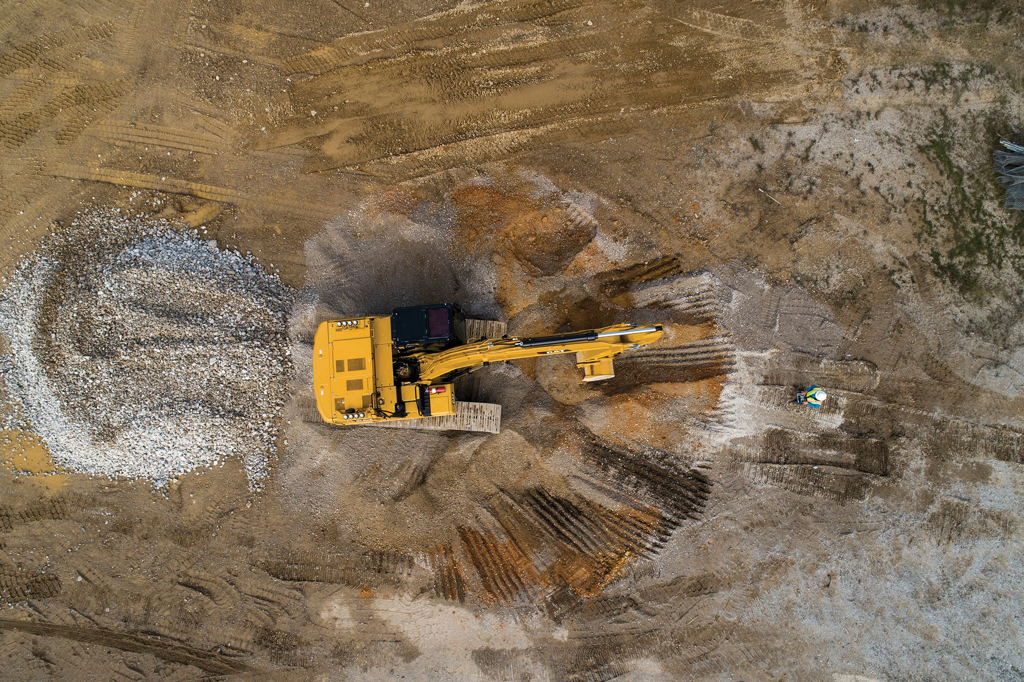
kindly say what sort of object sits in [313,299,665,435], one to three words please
work vehicle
